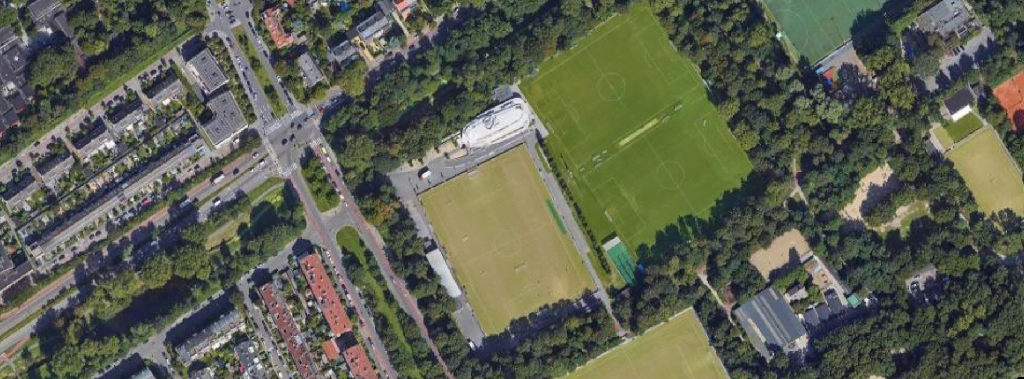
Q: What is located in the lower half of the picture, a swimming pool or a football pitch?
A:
football pitch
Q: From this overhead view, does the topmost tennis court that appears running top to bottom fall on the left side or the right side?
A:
right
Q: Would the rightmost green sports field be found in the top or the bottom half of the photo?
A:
top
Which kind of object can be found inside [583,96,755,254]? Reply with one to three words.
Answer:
soccer field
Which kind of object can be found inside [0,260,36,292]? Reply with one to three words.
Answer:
building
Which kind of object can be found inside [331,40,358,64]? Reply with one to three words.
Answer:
house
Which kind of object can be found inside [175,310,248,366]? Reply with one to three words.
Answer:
building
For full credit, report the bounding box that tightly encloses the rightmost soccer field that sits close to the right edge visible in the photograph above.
[949,128,1024,219]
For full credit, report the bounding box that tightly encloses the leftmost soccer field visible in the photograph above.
[421,146,598,335]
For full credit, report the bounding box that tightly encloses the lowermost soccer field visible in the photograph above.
[565,308,728,379]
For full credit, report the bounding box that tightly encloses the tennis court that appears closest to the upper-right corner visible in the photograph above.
[993,68,1024,136]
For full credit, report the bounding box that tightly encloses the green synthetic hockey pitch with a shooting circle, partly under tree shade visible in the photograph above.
[771,0,914,66]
